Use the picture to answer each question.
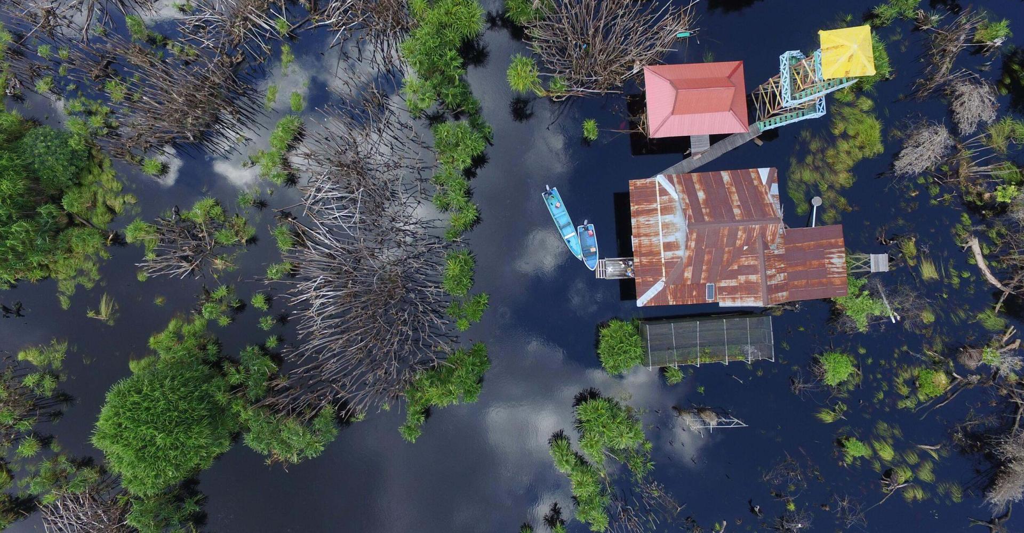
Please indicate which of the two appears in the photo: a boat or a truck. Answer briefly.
boat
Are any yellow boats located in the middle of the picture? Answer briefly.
No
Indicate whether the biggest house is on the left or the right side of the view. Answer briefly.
right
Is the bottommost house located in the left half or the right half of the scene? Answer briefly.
right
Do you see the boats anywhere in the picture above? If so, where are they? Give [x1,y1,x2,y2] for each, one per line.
[577,218,598,270]
[542,184,582,261]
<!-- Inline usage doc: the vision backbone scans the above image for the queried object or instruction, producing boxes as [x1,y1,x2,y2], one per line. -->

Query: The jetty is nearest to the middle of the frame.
[596,256,635,280]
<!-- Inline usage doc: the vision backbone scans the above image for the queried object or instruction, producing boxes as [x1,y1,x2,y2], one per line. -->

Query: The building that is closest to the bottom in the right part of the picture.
[642,314,774,371]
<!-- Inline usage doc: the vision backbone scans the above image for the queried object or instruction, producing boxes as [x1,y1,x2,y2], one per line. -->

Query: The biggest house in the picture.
[628,166,848,307]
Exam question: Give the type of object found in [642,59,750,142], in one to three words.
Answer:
shed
